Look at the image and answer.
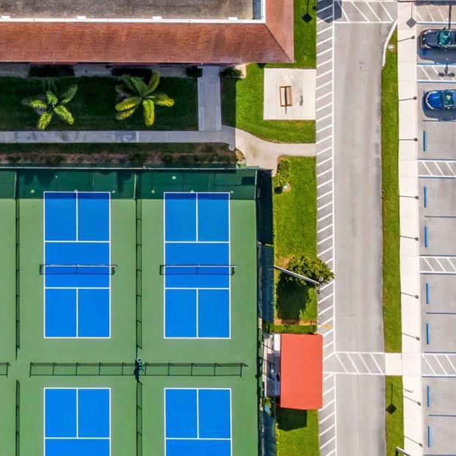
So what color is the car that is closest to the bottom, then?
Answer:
blue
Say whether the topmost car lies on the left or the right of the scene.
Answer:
right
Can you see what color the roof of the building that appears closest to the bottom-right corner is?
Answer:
red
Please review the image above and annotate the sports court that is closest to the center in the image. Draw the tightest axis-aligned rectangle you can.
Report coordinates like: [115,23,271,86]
[164,192,231,338]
